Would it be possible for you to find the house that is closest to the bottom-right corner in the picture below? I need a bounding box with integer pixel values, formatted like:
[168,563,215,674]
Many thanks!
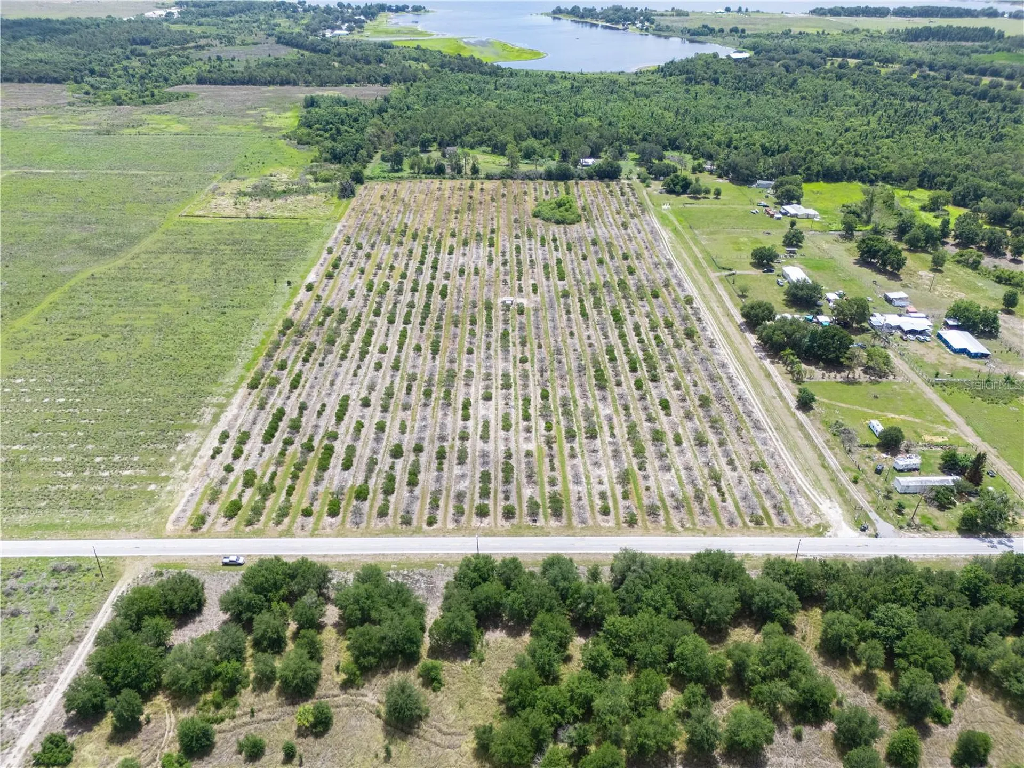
[893,476,957,493]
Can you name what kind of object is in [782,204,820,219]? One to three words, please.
house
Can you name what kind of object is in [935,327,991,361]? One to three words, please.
house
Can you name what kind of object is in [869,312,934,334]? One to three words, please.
building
